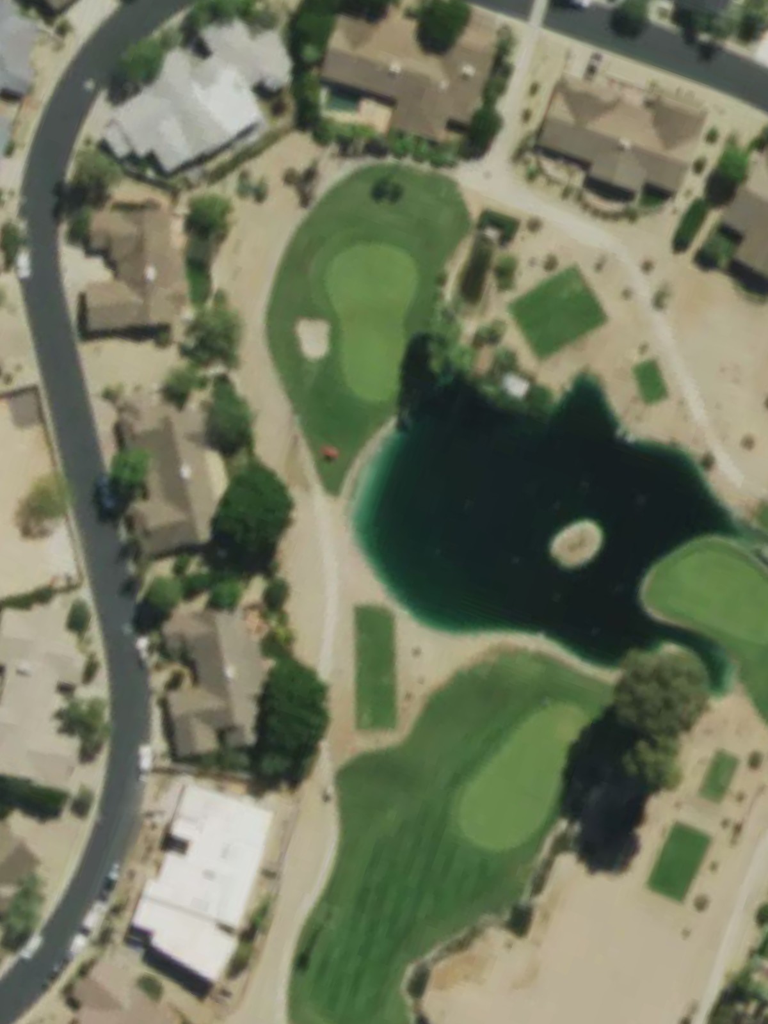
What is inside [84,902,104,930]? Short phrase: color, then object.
white vehicle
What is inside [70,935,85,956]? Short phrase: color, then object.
white car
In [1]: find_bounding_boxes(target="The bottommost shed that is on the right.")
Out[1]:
[502,373,530,401]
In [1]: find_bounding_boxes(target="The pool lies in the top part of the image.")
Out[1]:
[325,85,364,112]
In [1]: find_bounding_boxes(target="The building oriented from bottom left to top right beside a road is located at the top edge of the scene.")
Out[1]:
[106,16,293,170]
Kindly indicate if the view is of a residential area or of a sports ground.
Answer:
residential area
